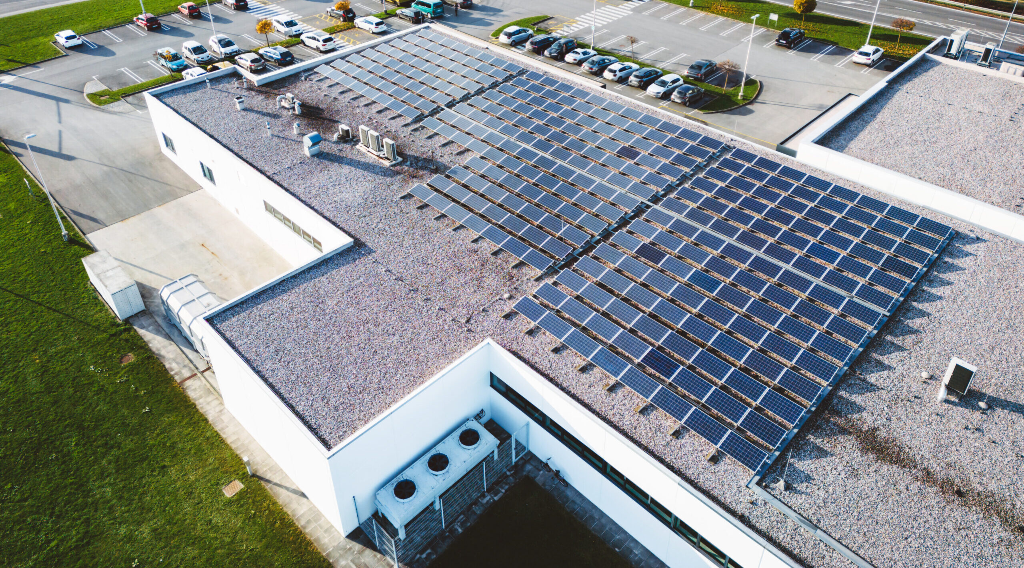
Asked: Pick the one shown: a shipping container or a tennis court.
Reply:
shipping container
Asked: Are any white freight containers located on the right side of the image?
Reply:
No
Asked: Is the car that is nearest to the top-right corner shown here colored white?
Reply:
Yes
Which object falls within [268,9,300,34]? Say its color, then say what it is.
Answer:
white vehicle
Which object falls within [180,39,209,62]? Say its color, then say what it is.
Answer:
white car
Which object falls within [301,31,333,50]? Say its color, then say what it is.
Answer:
white car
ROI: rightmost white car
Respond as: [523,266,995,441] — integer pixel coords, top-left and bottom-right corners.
[856,42,889,64]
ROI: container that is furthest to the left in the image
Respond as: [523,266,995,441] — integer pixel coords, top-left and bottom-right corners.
[82,247,145,322]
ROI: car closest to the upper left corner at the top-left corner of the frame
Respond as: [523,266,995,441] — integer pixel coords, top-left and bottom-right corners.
[54,29,79,46]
